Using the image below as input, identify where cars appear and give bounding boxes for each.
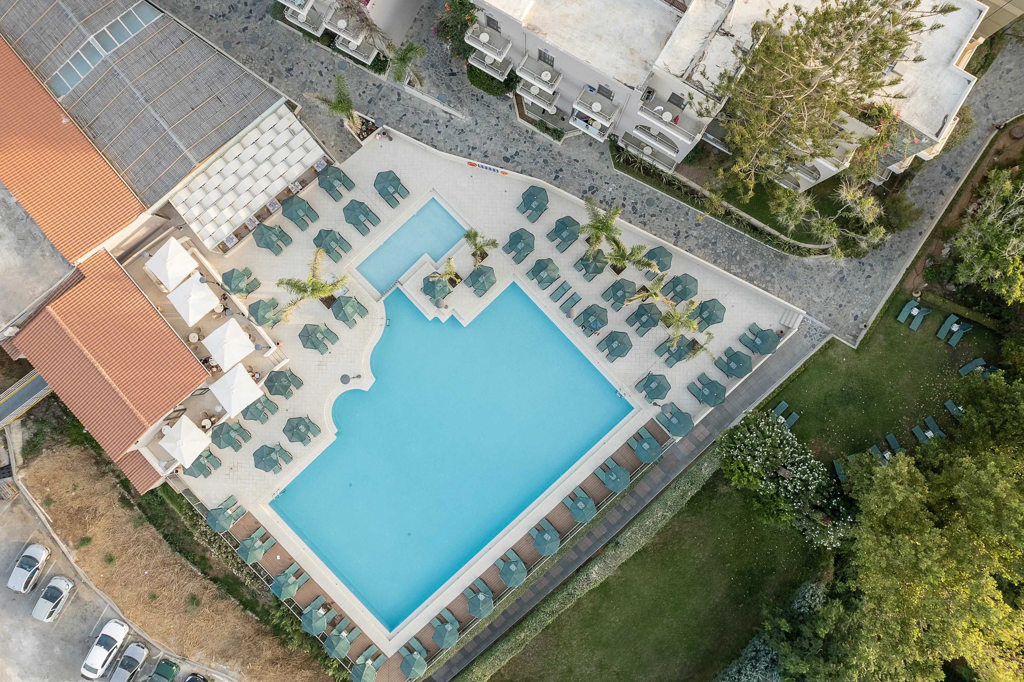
[78,619,129,682]
[107,642,150,682]
[147,660,181,682]
[28,574,75,629]
[4,542,52,600]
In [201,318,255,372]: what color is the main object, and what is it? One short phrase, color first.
white umbrella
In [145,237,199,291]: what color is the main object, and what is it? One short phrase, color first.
white umbrella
